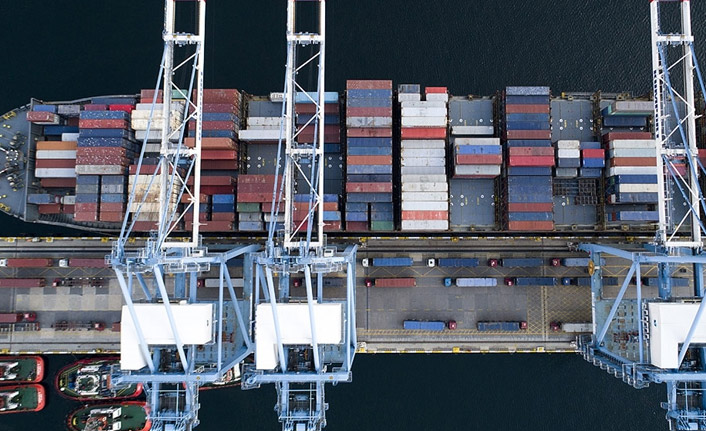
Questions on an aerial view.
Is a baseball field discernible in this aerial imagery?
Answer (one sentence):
No, this view has no baseball field in it.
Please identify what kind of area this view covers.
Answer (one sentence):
It's a port.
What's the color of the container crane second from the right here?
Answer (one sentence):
The container crane second from the right is white.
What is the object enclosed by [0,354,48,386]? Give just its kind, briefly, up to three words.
boat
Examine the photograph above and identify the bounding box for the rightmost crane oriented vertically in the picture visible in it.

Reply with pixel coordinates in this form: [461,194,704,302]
[560,0,706,431]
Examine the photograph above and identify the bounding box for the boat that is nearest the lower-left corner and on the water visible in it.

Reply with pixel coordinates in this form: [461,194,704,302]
[0,383,48,417]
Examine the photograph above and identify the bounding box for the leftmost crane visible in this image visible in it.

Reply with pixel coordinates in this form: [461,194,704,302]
[110,0,276,431]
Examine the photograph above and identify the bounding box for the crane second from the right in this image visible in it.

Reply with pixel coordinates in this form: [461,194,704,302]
[241,0,376,431]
